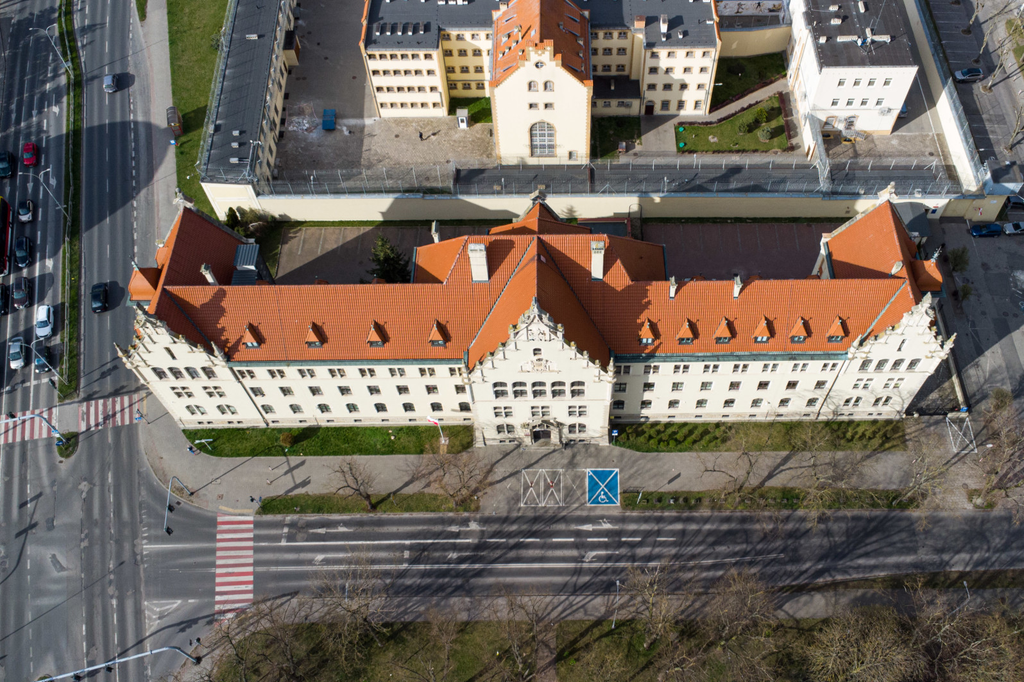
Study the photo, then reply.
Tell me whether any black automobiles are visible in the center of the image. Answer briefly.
No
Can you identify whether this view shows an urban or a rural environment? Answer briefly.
urban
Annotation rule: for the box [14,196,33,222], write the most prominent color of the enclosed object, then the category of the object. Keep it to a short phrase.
black car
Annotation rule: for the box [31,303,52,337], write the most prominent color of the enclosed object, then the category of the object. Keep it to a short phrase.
white car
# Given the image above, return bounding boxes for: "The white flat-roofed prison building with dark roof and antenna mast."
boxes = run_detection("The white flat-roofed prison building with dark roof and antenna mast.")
[772,0,921,145]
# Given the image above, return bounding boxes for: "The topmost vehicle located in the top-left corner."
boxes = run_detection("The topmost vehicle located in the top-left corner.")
[100,70,117,91]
